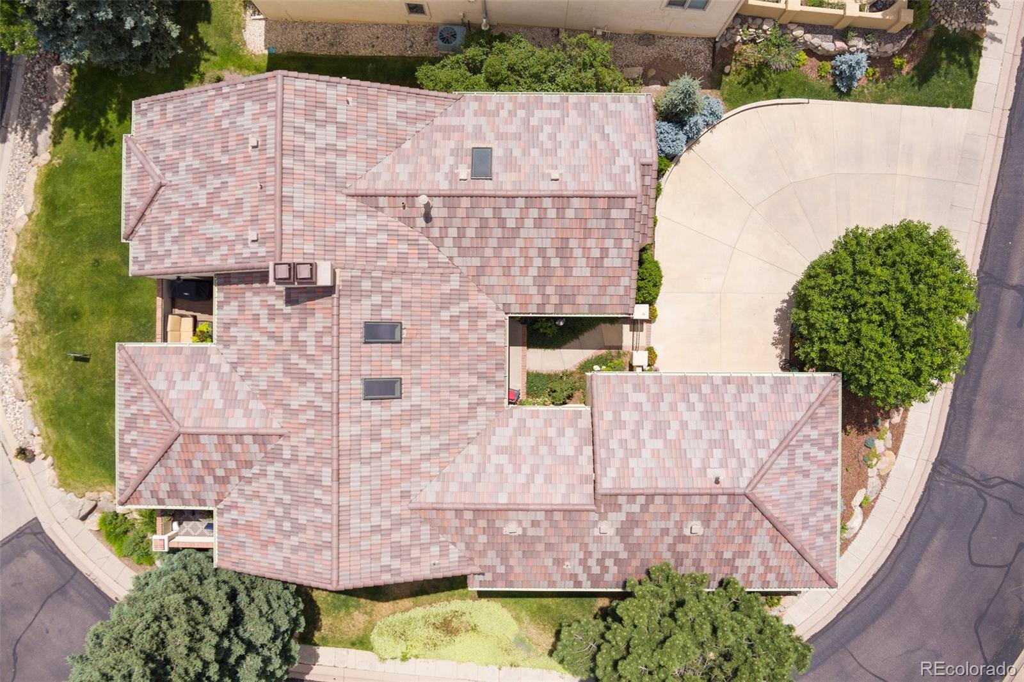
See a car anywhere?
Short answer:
No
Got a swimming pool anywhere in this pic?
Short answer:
No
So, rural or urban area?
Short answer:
urban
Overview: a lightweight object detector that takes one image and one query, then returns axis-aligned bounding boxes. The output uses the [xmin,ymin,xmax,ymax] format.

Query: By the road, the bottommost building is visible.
[111,67,845,594]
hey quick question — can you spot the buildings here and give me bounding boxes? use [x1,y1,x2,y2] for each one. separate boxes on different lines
[252,0,742,39]
[111,67,845,594]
